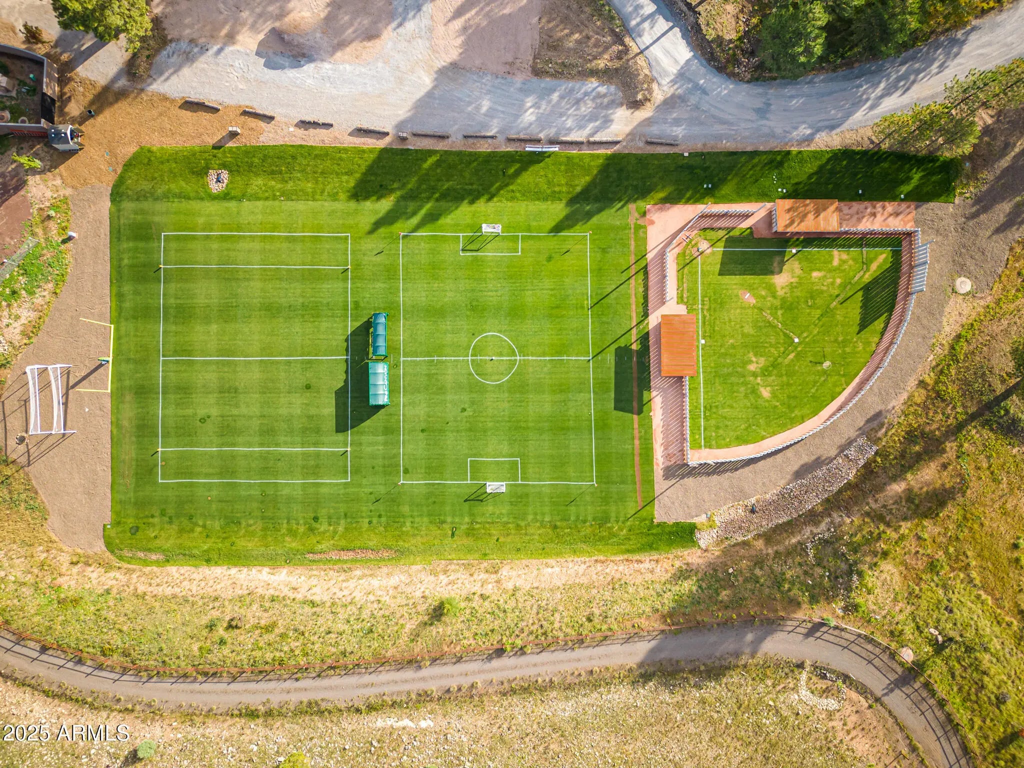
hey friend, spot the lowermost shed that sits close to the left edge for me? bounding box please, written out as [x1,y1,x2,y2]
[42,124,86,153]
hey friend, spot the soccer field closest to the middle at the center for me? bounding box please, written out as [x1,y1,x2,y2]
[348,233,644,484]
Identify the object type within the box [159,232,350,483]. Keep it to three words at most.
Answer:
sports field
